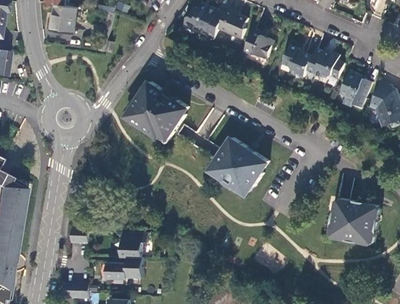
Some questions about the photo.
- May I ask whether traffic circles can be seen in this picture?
Yes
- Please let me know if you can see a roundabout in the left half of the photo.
Yes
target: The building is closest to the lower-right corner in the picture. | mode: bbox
[327,198,382,247]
